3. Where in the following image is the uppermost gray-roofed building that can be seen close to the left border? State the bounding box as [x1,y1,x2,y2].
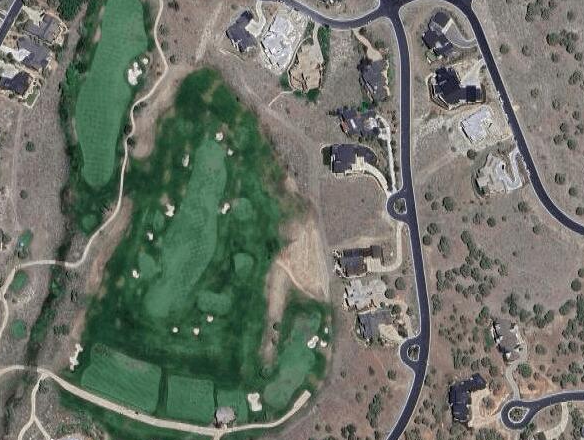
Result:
[21,12,61,44]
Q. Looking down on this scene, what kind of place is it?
golf course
